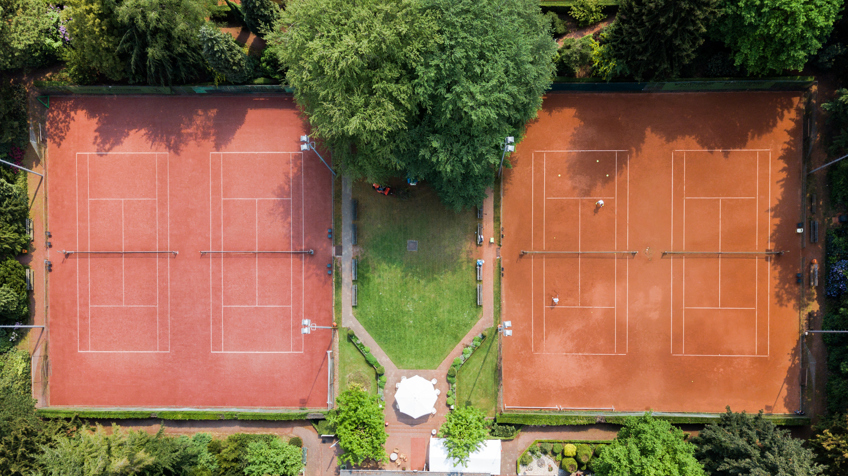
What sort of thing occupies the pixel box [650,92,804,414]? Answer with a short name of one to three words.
tennis court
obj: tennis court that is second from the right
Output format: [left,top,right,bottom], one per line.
[502,93,650,411]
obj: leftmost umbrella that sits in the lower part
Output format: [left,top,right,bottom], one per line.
[394,375,439,421]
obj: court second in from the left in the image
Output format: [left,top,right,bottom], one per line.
[190,97,333,409]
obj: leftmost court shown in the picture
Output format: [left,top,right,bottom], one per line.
[48,97,190,409]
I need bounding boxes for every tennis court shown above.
[502,93,650,411]
[650,92,804,414]
[190,97,333,409]
[48,97,190,409]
